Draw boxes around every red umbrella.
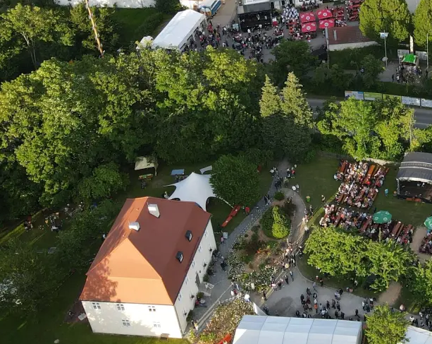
[300,24,318,40]
[318,20,337,35]
[316,9,335,20]
[299,13,316,25]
